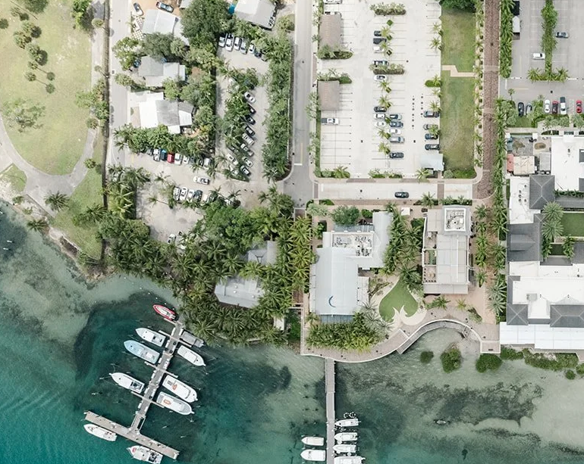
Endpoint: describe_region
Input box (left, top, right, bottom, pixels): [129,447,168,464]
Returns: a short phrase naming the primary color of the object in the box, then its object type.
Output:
white boat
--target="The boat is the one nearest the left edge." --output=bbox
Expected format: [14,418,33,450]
[83,424,120,443]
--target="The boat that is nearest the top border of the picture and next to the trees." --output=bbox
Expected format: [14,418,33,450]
[152,304,179,322]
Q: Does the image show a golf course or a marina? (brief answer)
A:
marina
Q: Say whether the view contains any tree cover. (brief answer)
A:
Yes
